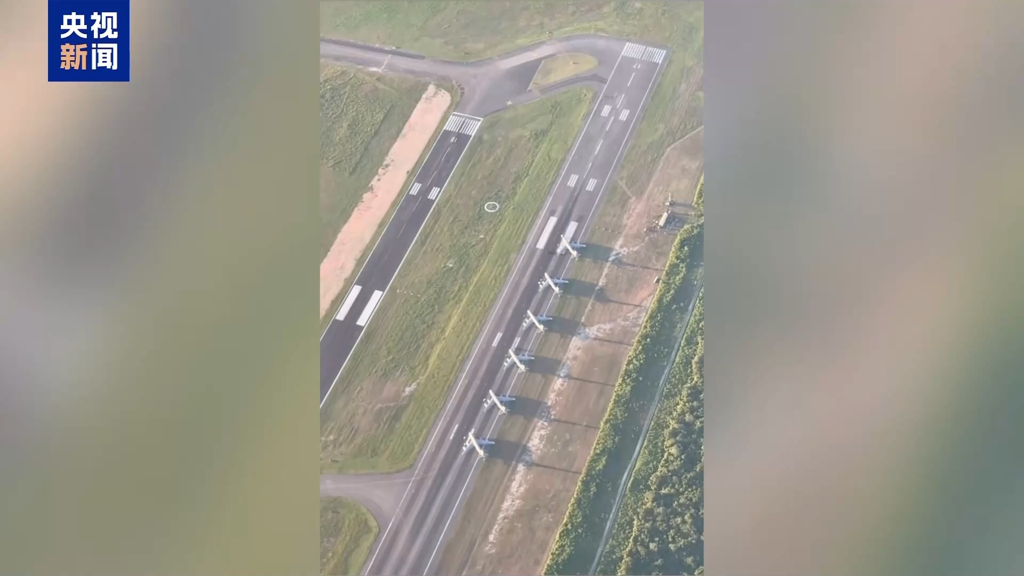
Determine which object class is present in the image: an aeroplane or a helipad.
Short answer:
aeroplane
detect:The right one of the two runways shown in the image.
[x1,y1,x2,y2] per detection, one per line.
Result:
[360,36,674,576]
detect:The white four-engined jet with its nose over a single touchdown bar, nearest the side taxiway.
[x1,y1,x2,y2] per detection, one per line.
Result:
[463,433,494,459]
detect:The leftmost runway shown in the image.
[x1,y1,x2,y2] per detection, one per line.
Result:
[182,112,483,576]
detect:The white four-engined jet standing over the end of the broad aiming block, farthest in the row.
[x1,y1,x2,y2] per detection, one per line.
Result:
[558,238,585,258]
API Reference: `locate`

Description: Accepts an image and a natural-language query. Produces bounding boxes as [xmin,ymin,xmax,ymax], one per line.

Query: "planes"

[523,311,552,333]
[463,433,494,459]
[540,274,569,295]
[504,350,534,372]
[558,238,585,258]
[484,390,515,415]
